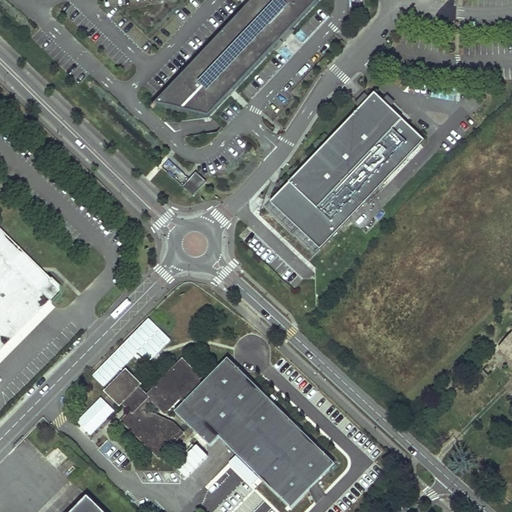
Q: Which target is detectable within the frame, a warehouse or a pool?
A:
warehouse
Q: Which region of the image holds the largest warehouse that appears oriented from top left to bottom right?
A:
bottom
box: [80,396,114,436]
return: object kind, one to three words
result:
shed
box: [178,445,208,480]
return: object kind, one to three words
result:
shed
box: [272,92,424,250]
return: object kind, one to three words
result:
building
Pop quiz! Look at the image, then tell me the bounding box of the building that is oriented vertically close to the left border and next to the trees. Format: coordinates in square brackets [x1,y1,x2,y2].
[0,228,60,362]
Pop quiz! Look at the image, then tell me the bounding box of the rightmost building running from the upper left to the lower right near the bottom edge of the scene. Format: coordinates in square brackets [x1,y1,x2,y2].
[175,358,334,510]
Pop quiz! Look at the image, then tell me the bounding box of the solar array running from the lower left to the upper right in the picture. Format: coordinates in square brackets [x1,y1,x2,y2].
[198,0,290,89]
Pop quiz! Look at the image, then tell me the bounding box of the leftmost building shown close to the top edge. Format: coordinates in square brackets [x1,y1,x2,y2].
[150,0,323,118]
